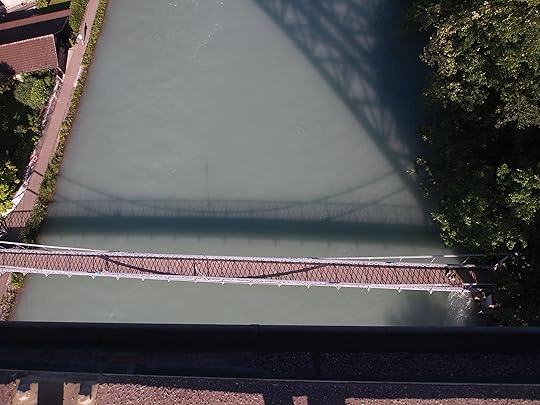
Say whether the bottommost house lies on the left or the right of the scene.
left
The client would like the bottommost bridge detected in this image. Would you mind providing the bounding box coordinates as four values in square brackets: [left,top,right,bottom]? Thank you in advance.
[0,322,540,405]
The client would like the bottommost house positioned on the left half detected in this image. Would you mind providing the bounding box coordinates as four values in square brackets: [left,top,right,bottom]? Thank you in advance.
[0,27,68,88]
